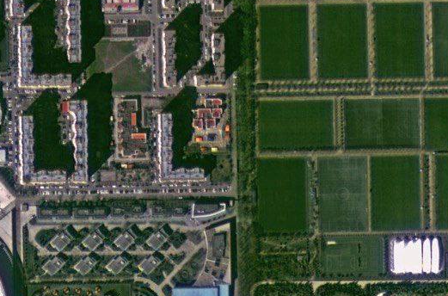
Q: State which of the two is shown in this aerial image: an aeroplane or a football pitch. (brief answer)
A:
football pitch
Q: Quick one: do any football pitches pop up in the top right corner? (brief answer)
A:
Yes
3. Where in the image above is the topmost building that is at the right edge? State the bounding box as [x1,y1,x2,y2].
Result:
[389,237,444,277]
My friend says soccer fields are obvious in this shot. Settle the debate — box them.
[316,4,367,80]
[257,158,307,234]
[371,156,420,231]
[258,100,333,150]
[345,99,420,150]
[435,154,448,229]
[259,4,308,81]
[425,98,448,151]
[432,2,448,75]
[319,157,367,232]
[373,3,424,79]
